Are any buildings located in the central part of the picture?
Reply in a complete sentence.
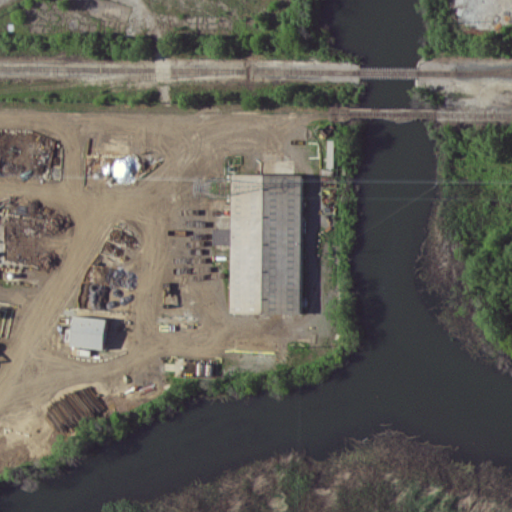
Yes, a building shows up in the central part of the picture.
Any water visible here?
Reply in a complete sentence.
Yes, water can be seen from above here.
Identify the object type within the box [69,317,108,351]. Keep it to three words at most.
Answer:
shed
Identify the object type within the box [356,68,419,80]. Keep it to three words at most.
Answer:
bridge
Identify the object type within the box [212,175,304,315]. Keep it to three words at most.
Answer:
building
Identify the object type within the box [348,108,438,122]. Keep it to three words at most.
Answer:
bridge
